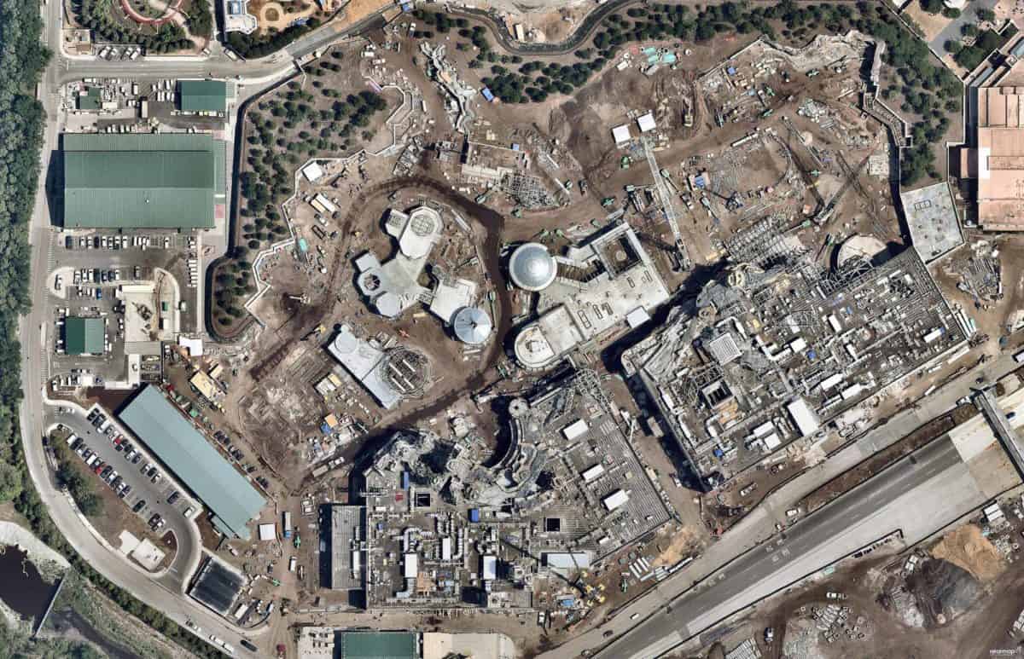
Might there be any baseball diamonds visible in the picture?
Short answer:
No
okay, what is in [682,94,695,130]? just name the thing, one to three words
vehicle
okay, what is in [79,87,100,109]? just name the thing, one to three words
shed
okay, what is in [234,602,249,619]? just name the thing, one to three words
vehicle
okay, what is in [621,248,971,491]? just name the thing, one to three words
building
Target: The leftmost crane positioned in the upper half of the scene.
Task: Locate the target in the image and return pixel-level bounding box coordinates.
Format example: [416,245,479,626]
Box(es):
[645,136,699,281]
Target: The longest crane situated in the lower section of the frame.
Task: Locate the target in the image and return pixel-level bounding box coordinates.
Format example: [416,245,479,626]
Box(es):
[569,551,605,606]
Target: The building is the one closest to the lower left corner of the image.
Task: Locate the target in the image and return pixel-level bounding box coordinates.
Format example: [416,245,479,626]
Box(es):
[132,539,165,571]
